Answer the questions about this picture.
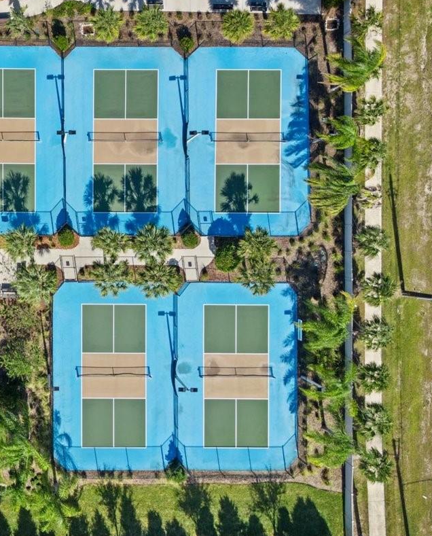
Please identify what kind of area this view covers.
sports ground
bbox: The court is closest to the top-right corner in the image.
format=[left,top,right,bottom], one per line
[186,49,311,236]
